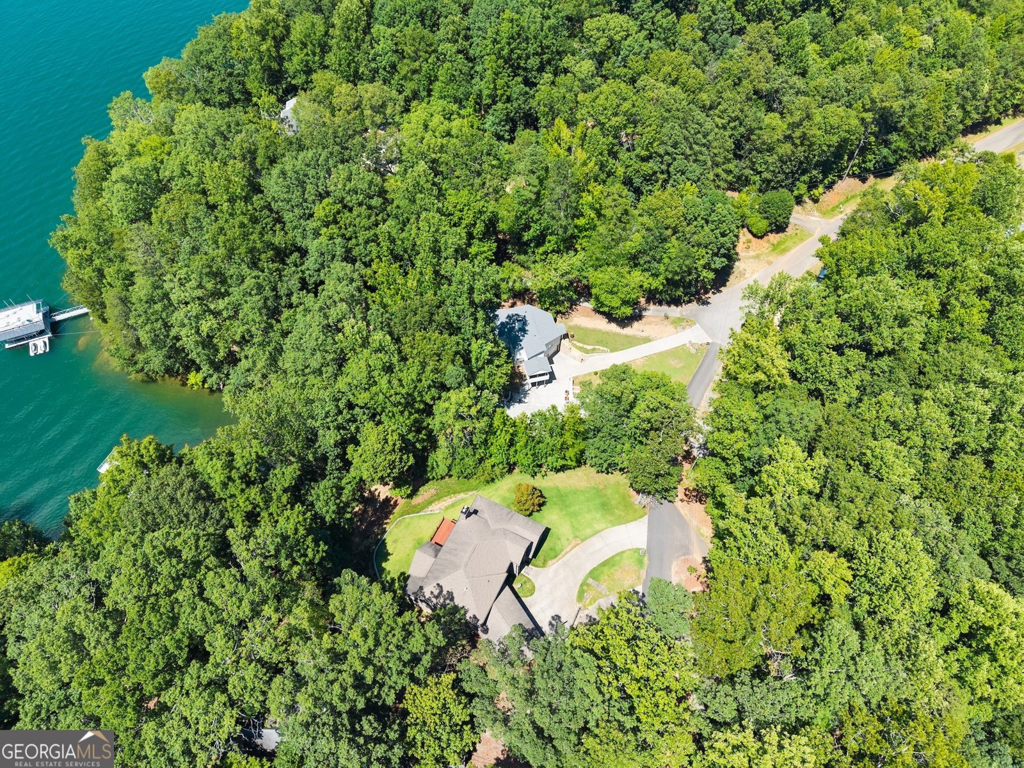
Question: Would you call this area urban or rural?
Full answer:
The area shown here is rural.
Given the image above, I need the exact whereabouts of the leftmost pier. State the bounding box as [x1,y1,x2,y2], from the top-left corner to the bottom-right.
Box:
[0,299,52,348]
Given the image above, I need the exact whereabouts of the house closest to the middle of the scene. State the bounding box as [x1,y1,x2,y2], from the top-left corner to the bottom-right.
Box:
[494,305,567,395]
